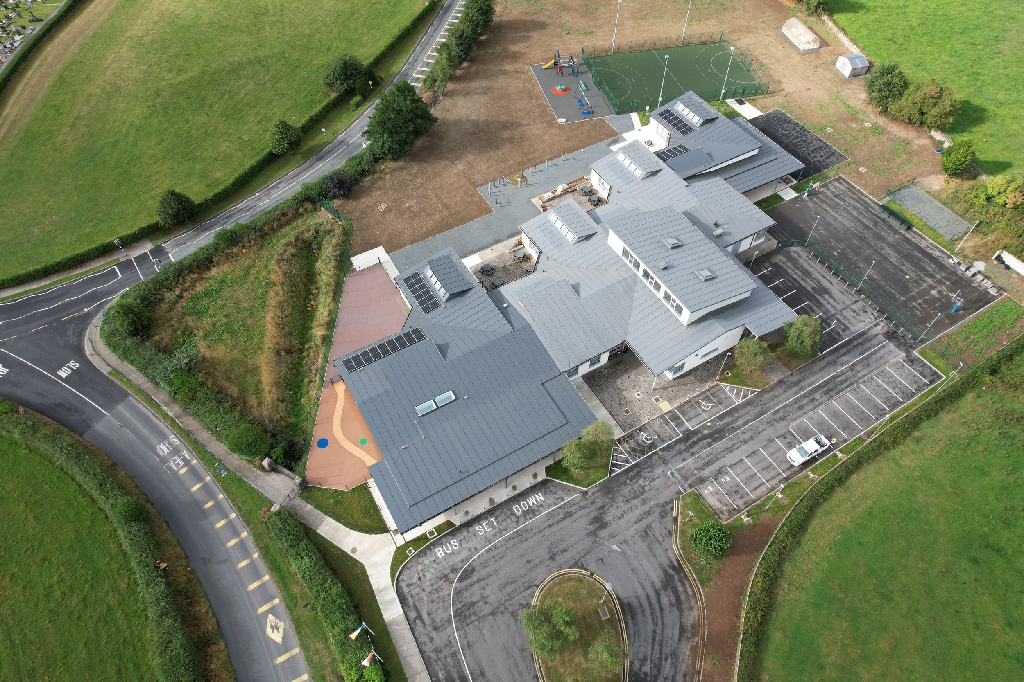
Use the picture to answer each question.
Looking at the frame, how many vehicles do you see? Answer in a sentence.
My tally gives 1 vehicle in this photo.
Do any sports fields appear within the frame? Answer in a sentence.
Yes, the picture does show a sports field.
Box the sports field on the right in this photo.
[583,42,766,114]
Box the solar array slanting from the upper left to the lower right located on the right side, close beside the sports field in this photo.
[657,109,694,135]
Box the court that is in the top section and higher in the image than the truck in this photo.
[762,175,1006,350]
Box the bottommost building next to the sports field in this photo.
[331,91,806,535]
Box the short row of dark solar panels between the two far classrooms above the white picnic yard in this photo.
[655,144,690,160]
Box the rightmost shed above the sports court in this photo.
[833,53,871,78]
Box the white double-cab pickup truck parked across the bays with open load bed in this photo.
[787,433,833,466]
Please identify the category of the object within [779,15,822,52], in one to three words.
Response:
greenhouse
